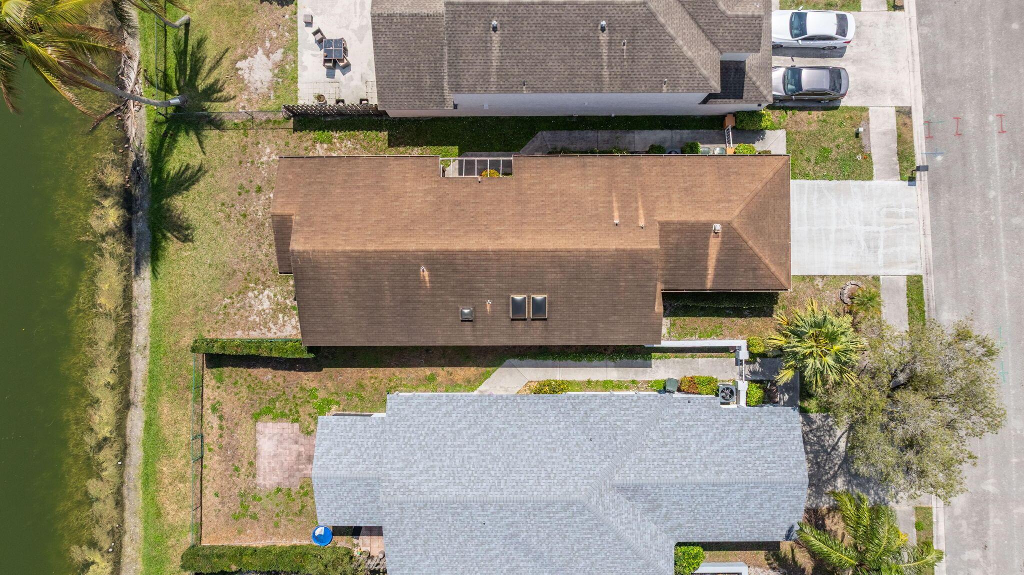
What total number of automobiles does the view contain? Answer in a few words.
2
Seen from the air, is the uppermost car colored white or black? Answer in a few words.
white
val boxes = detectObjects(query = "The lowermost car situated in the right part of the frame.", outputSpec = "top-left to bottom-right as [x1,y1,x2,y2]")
[771,61,848,102]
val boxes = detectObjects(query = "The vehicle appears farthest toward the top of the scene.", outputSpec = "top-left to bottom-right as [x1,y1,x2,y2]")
[771,6,854,49]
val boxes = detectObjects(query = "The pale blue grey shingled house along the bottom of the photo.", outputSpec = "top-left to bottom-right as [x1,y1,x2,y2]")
[311,391,810,575]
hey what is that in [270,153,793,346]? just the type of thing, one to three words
house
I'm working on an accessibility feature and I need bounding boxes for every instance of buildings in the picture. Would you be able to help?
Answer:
[311,391,810,575]
[270,153,793,346]
[371,0,774,116]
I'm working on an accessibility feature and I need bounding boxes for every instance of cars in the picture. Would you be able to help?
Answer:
[771,61,848,102]
[771,6,854,49]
